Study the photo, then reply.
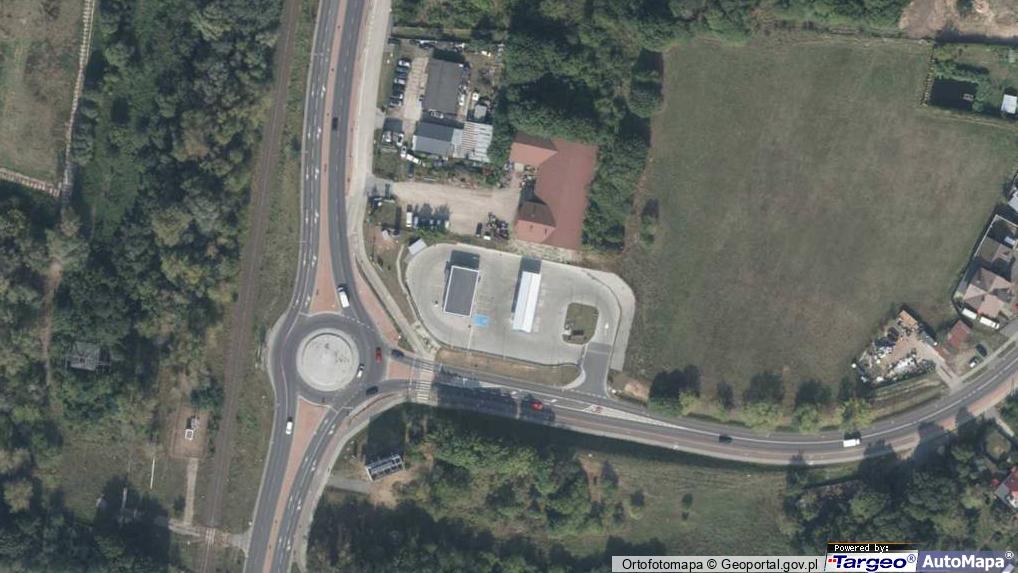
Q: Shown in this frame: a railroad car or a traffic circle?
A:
traffic circle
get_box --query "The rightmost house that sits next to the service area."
[510,131,597,248]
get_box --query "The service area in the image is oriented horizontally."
[406,243,635,371]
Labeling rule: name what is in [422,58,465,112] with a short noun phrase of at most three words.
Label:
building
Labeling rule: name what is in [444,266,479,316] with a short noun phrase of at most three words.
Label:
building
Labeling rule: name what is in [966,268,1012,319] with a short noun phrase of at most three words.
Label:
house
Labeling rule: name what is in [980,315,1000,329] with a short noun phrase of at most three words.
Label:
vehicle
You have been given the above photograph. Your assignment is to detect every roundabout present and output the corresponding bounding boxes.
[270,313,385,407]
